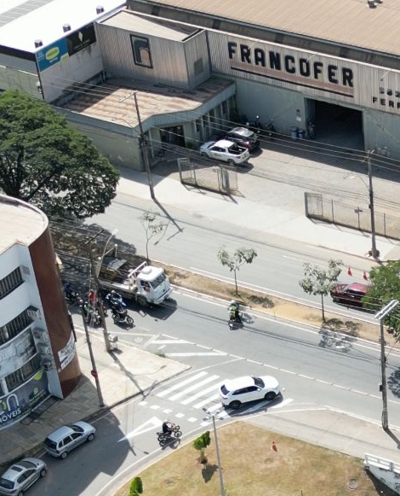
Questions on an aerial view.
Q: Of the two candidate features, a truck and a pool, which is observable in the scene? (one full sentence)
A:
Of the two, only a truck appears.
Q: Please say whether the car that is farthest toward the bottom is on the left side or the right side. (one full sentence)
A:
The car that is farthest toward the bottom appears in the left half of the scene.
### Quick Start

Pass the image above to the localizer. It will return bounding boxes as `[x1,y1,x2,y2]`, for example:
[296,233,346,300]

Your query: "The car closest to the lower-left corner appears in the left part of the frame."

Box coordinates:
[0,458,49,496]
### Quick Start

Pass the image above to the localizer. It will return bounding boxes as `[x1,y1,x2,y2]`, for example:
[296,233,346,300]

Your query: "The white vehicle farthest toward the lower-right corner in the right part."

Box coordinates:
[217,375,282,408]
